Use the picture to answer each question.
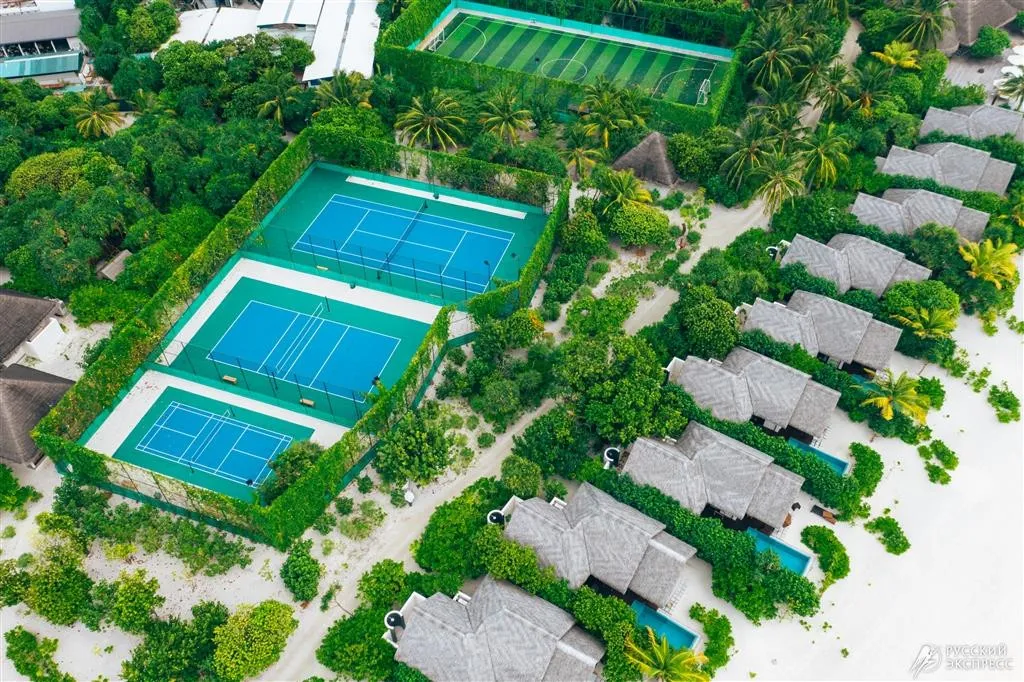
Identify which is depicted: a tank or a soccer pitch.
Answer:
soccer pitch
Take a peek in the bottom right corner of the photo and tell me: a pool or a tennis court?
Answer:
pool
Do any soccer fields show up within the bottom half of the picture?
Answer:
No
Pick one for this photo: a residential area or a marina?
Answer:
residential area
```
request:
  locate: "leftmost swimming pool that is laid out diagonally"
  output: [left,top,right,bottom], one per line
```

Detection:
[624,594,701,658]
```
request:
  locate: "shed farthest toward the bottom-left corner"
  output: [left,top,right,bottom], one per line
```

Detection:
[0,365,77,470]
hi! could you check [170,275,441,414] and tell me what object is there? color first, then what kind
blue sports court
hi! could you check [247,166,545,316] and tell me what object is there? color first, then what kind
blue tennis court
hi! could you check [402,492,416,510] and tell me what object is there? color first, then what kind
white umbrella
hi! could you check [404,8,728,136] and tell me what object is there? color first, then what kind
green soccer field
